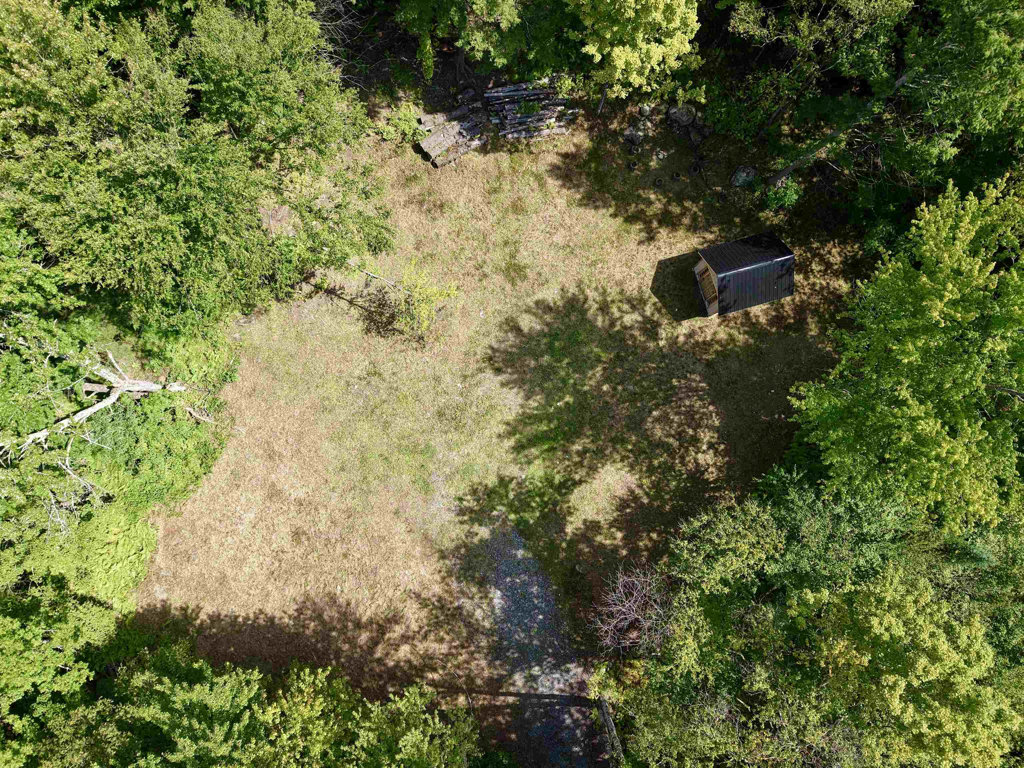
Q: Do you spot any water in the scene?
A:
No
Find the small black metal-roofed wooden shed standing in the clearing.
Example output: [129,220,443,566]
[691,227,795,314]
